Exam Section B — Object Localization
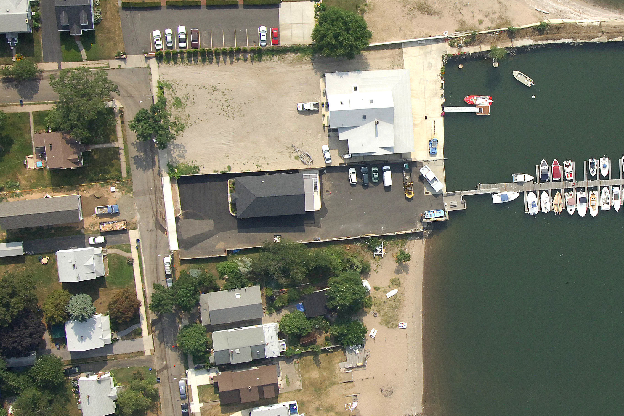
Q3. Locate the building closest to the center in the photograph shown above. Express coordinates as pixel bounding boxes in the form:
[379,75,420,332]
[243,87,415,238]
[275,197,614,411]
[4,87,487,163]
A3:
[229,173,319,217]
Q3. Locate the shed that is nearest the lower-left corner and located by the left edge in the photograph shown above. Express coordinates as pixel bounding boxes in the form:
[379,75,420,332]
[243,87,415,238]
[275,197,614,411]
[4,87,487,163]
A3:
[6,352,36,370]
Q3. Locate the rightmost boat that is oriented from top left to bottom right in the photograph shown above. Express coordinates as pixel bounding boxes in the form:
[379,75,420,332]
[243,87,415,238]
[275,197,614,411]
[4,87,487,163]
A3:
[513,72,534,88]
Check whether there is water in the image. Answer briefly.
Yes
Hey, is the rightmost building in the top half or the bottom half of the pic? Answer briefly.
top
